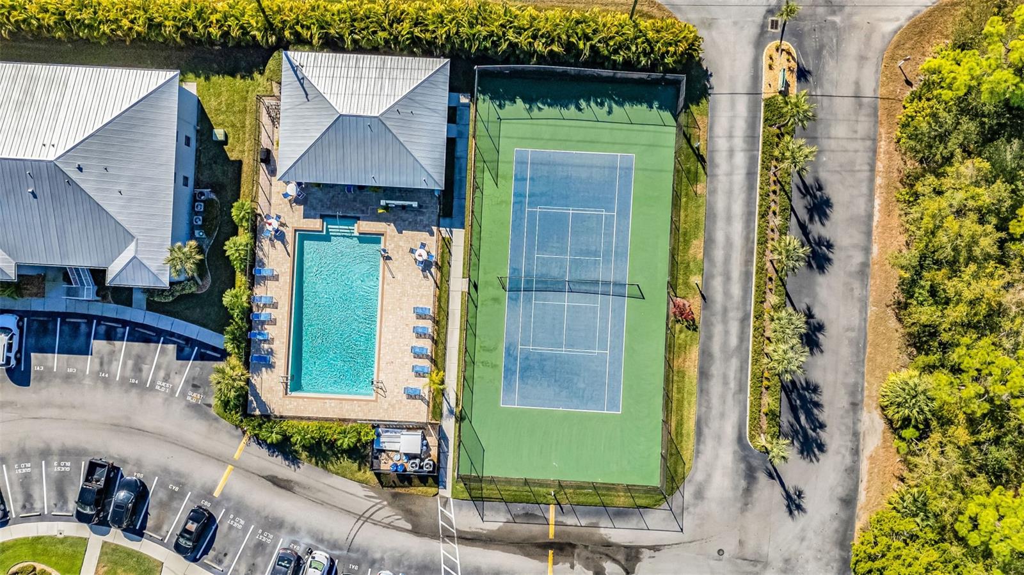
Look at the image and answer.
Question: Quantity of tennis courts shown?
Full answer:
The count comes to 1 tennis court.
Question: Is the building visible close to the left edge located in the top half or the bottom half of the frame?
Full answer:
It is in the top half that the building visible close to the left edge appears.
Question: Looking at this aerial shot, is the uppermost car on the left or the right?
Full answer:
The uppermost car appears in the left half of the scene.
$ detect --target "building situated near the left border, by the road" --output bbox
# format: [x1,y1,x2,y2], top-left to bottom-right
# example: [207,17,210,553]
[0,62,198,288]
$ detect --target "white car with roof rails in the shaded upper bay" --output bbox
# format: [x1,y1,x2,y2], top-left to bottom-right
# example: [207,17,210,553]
[0,314,22,368]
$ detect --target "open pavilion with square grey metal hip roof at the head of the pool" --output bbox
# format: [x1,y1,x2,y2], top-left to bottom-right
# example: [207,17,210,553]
[277,50,451,190]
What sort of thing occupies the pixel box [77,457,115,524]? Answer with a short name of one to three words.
truck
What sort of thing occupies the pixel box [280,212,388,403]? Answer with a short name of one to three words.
swimming pool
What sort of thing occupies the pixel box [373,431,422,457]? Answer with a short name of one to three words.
shed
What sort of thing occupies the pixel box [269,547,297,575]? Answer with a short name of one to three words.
car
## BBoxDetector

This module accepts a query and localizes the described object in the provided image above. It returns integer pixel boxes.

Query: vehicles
[177,505,212,557]
[77,457,115,524]
[0,480,8,525]
[108,475,146,532]
[301,545,312,564]
[376,569,396,575]
[0,314,22,368]
[302,550,327,575]
[269,547,297,575]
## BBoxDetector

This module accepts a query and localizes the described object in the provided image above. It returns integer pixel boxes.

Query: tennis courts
[459,74,678,487]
